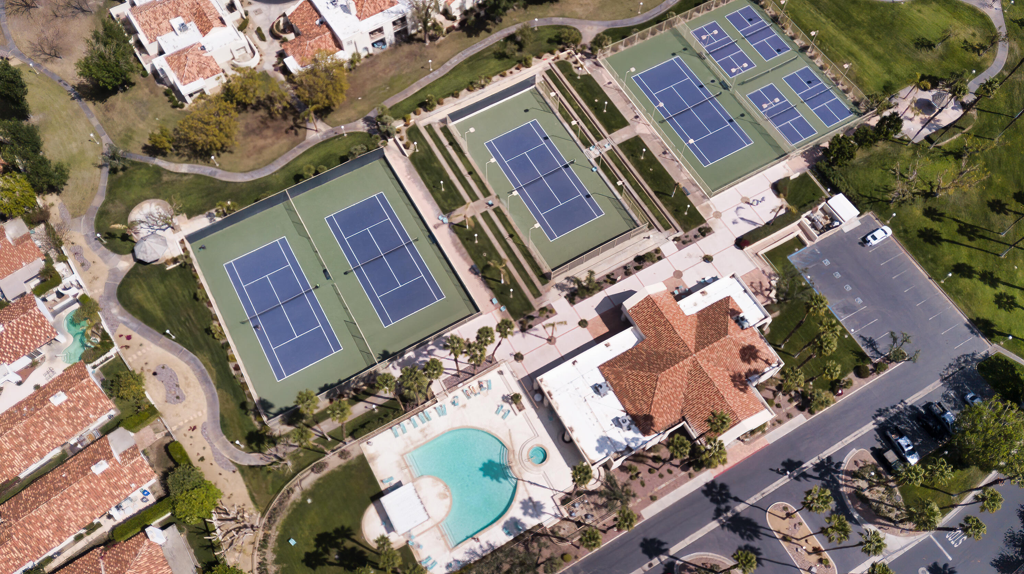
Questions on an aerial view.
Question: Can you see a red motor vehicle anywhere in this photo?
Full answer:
No, I can't see a single red motor vehicle in this photo.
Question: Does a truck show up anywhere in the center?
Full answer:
No, I can find no truck in the center.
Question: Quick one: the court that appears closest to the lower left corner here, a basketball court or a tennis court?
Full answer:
Specifically, the court that appears closest to the lower left corner is a tennis court.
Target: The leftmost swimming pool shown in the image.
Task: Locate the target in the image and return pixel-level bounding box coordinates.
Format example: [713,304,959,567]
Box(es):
[59,307,91,365]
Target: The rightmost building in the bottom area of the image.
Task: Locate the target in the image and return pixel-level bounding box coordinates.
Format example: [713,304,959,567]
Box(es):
[535,262,785,475]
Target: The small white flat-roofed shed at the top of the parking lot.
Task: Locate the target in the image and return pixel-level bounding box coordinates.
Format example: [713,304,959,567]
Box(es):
[827,193,861,232]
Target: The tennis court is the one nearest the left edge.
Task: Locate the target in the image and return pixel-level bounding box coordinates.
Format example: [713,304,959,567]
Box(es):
[190,198,374,416]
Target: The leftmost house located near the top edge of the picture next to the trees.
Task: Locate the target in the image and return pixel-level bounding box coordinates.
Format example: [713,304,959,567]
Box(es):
[110,0,261,107]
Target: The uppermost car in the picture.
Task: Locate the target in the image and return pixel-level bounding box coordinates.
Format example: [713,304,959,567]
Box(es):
[866,227,894,244]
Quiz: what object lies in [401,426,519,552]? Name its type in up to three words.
swimming pool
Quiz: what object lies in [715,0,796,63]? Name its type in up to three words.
sports court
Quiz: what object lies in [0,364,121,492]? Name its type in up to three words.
house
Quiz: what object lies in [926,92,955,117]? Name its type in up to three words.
gazebo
